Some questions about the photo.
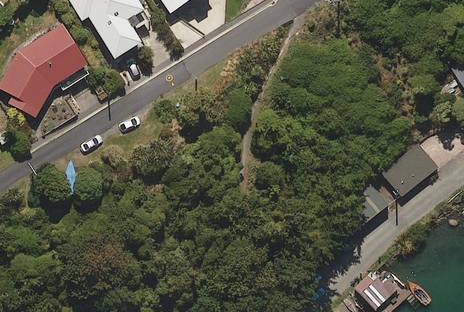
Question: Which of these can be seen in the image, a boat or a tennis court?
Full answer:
The image shows a boat.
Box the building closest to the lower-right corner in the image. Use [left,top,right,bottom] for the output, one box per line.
[354,272,420,312]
